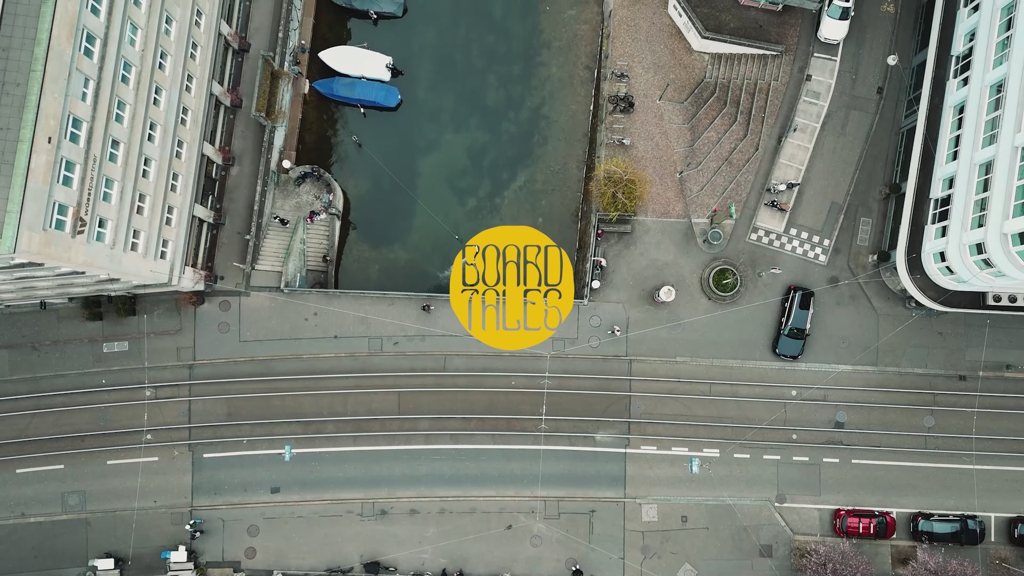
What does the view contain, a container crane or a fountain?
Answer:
fountain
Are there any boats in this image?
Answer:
Yes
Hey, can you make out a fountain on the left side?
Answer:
No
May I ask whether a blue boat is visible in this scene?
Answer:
Yes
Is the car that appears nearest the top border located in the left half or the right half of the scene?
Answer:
right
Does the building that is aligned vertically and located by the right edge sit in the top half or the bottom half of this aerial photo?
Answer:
top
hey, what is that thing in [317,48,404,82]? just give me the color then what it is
white boat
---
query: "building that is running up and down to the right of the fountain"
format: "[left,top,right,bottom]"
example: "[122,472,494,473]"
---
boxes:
[880,0,1024,317]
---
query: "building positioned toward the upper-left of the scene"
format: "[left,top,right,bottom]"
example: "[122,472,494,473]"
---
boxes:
[0,0,258,303]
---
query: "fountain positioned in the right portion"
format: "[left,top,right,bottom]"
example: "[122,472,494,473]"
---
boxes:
[692,218,737,253]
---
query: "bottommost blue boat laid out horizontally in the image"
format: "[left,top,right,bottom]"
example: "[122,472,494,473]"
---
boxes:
[311,80,403,121]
